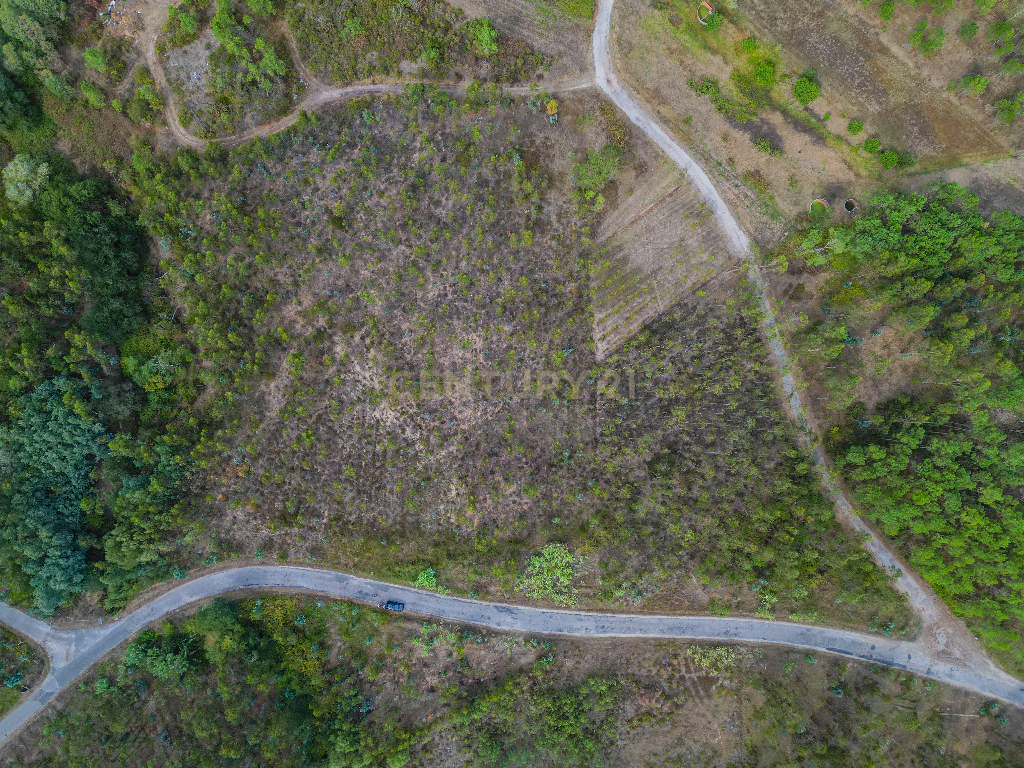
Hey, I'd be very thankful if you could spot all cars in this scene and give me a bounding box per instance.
[382,599,406,612]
